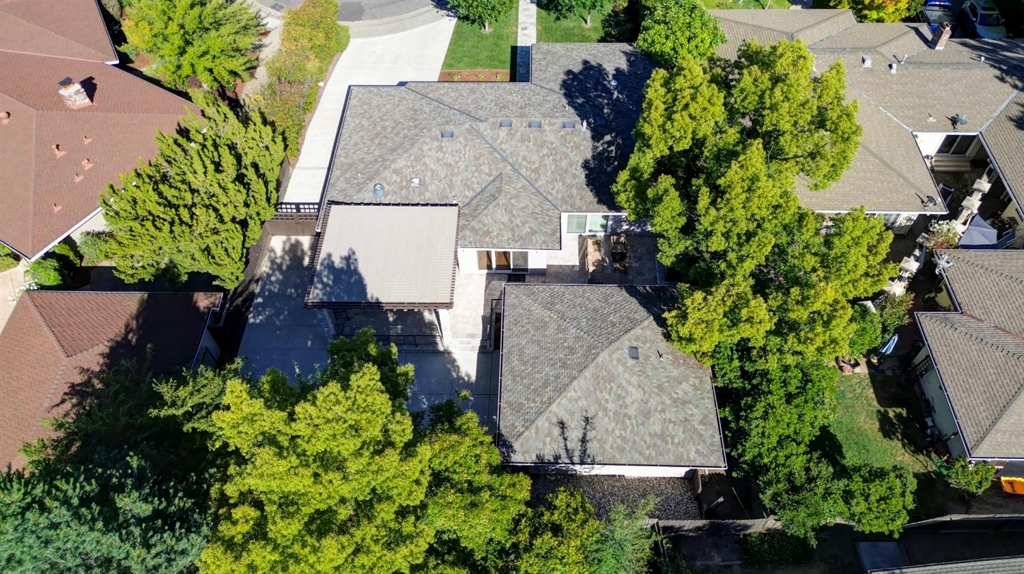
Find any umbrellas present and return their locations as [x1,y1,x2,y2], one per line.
[869,331,901,366]
[955,214,1004,248]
